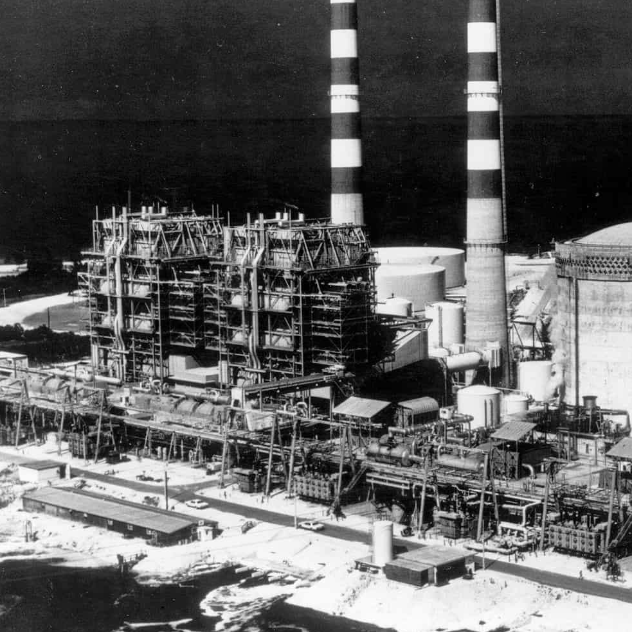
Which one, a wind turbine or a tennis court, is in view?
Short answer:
wind turbine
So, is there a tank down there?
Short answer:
Yes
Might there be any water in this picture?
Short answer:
Yes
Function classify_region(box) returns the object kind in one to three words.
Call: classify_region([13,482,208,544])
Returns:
building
